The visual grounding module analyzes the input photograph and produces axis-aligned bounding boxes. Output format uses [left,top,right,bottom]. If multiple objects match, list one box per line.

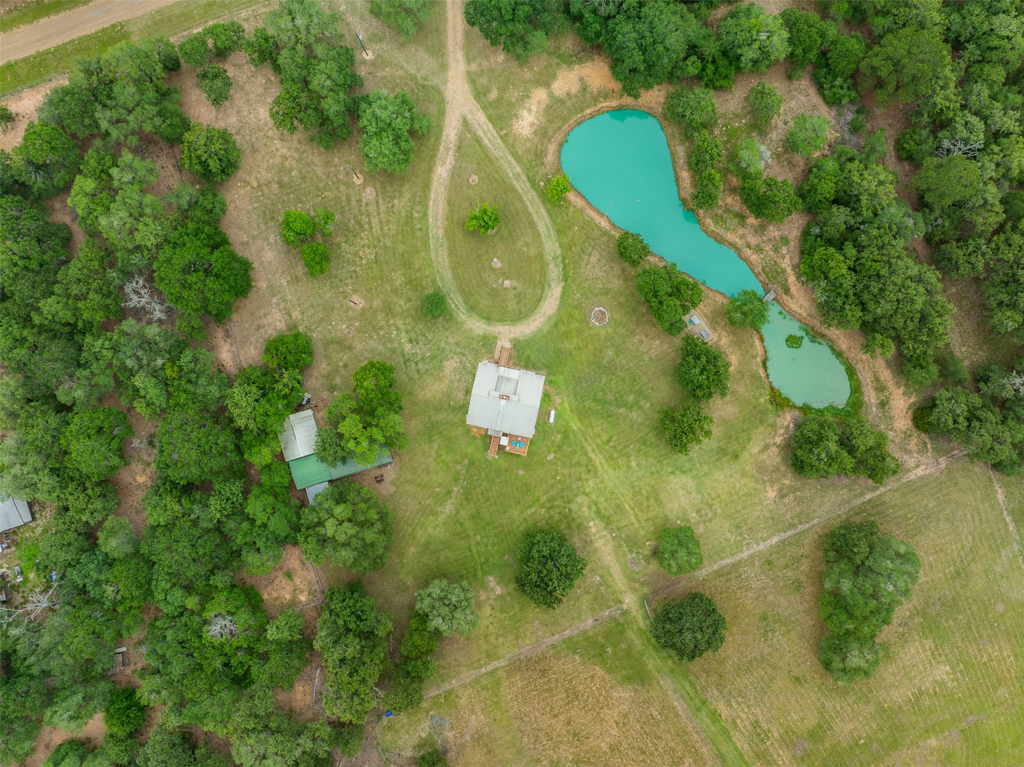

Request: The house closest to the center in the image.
[467,345,545,456]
